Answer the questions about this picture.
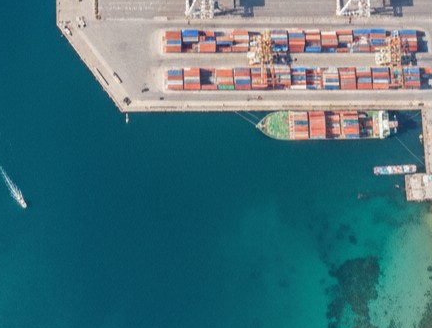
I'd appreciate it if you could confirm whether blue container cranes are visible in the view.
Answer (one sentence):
No, the picture doesn't show any blue container crane.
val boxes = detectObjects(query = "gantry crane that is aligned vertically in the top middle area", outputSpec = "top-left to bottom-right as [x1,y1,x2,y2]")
[247,28,275,96]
